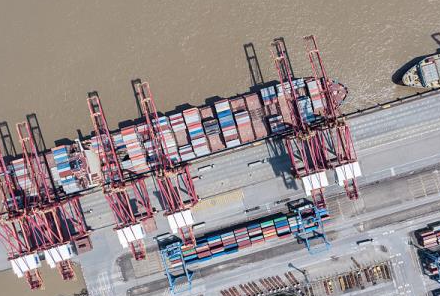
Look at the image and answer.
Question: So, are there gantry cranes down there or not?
Yes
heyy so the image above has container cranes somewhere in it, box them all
[270,44,333,206]
[137,83,202,245]
[87,98,159,260]
[303,34,366,196]
[295,202,330,256]
[0,151,63,291]
[158,244,194,296]
[15,120,96,281]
